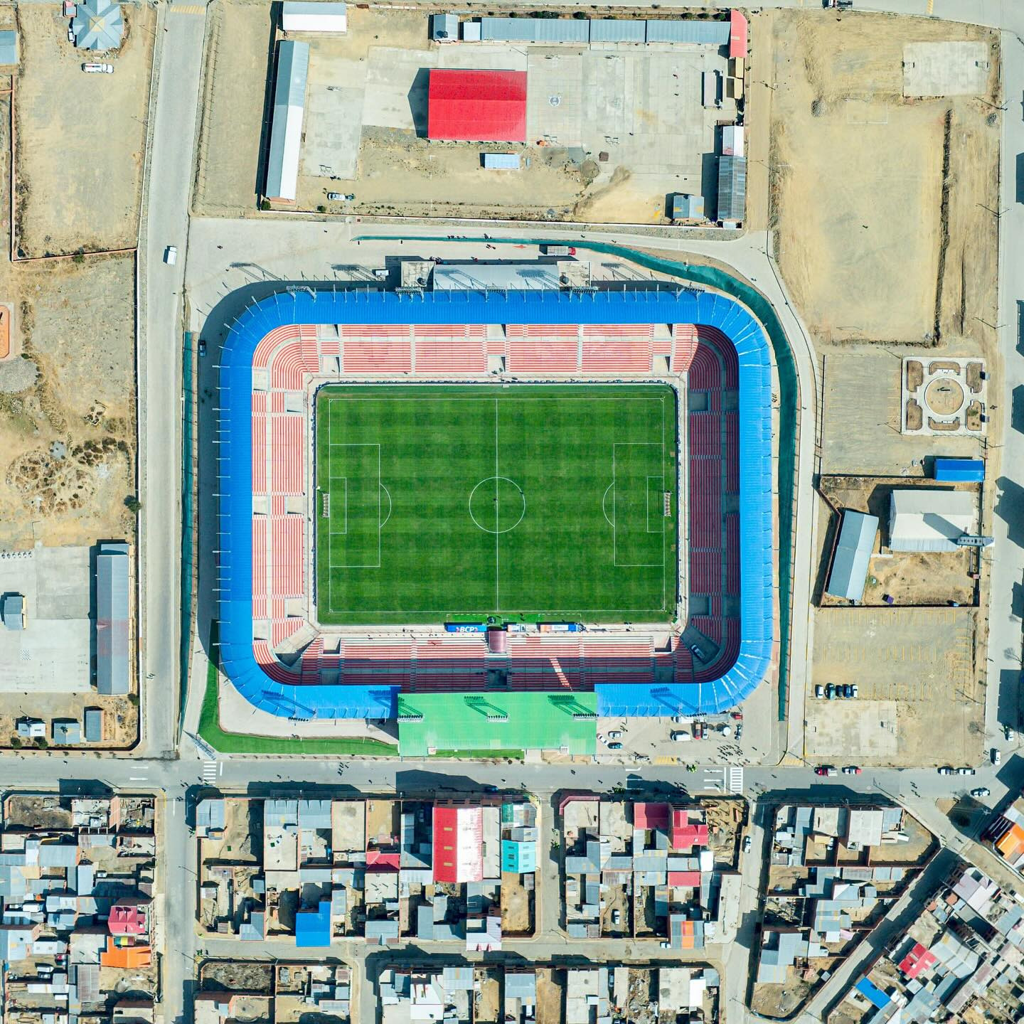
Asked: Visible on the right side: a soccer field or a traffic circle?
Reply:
soccer field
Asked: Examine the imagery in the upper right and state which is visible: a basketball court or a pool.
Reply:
basketball court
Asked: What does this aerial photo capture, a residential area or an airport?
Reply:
residential area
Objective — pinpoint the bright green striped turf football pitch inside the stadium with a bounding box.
[317,384,677,625]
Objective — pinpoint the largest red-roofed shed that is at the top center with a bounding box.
[428,70,526,149]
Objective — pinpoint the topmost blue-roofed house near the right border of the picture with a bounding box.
[929,459,986,482]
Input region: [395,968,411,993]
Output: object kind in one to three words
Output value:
house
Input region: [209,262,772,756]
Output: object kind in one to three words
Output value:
stadium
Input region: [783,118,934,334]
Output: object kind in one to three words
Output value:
soccer field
